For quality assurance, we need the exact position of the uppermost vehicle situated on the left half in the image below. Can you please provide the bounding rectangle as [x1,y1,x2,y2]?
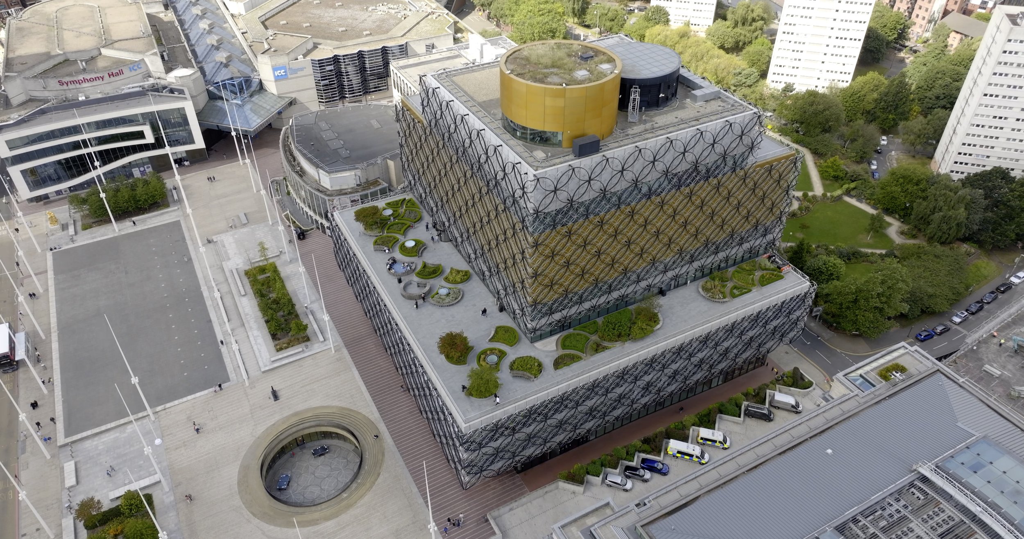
[292,227,307,241]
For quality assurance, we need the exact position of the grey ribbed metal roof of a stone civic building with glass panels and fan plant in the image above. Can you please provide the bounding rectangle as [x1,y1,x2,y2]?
[550,342,1024,539]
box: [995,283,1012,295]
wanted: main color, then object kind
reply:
black vehicle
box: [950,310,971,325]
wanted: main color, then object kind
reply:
gray car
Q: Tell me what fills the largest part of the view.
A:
buildings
